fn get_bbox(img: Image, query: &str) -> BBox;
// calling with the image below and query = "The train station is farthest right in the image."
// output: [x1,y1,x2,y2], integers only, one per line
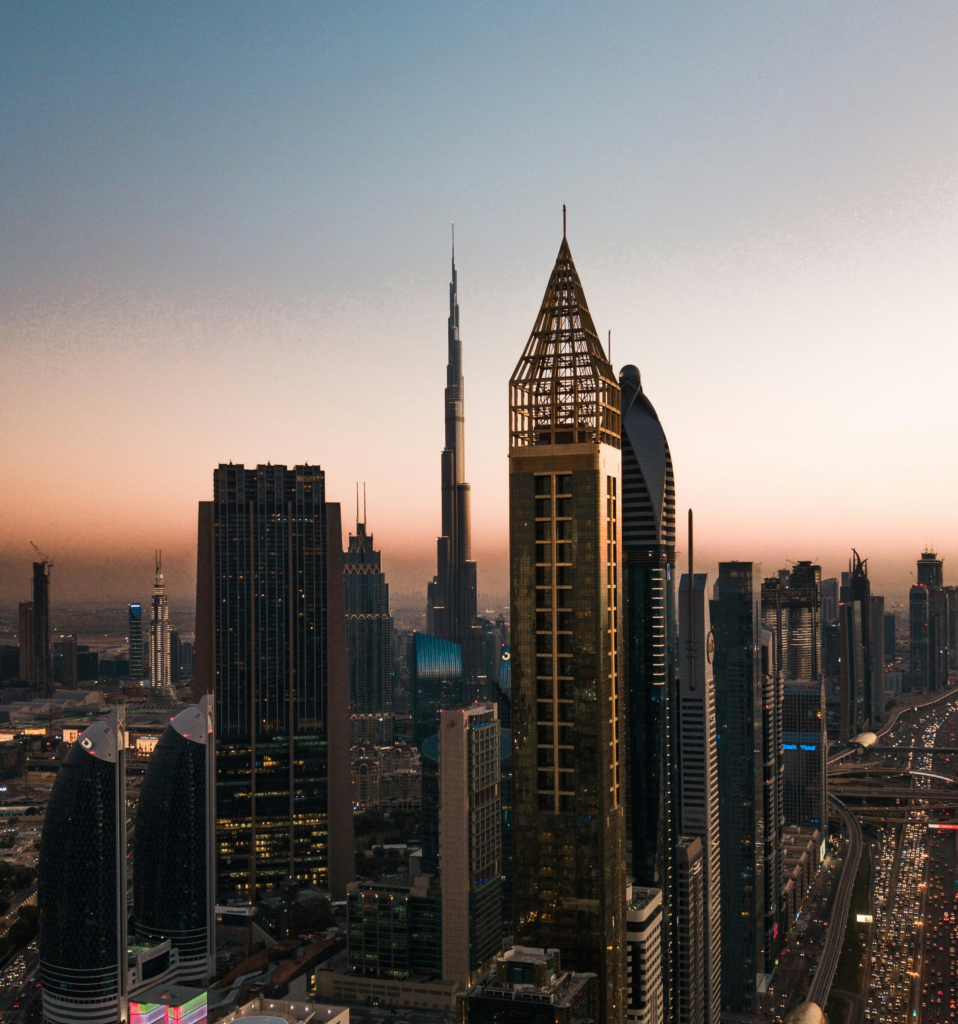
[844,725,886,752]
